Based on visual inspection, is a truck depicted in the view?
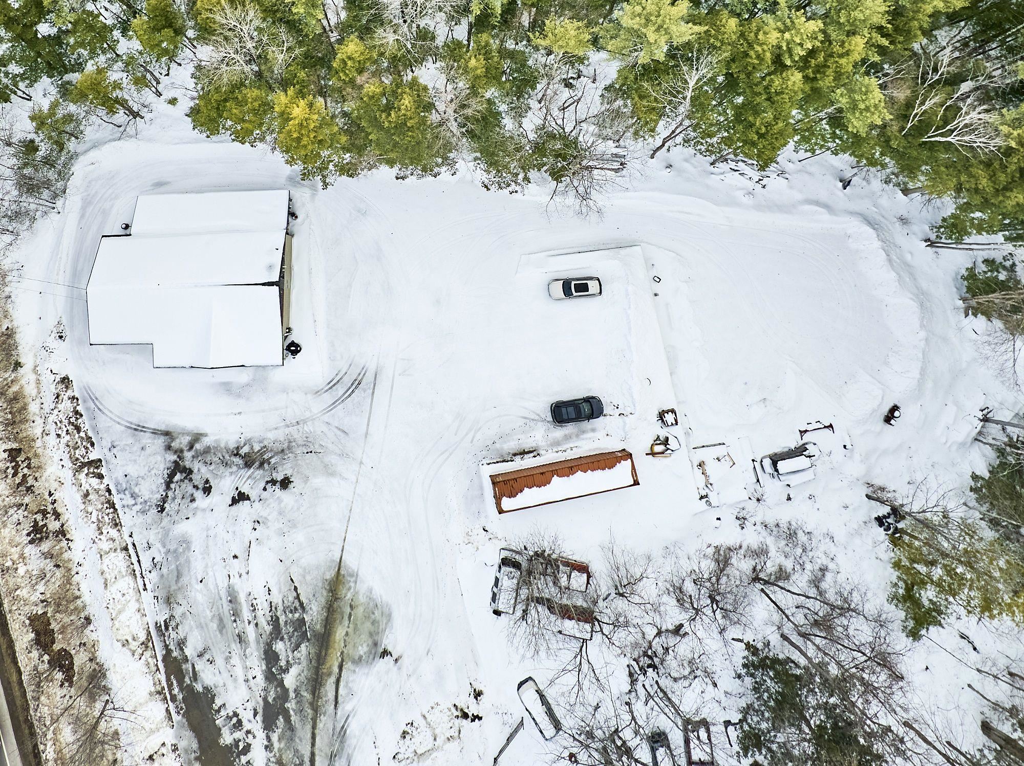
Yes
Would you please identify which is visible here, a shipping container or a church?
shipping container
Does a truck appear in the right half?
Yes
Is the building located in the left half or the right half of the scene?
left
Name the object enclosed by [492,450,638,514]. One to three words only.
shipping container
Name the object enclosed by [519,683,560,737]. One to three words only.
car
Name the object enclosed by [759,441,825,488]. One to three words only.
truck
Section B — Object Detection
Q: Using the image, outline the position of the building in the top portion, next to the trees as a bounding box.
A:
[86,190,294,370]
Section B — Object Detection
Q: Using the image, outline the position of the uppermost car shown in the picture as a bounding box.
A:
[546,275,604,301]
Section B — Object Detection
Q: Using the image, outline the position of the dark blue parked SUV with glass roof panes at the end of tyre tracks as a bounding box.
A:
[548,396,605,424]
